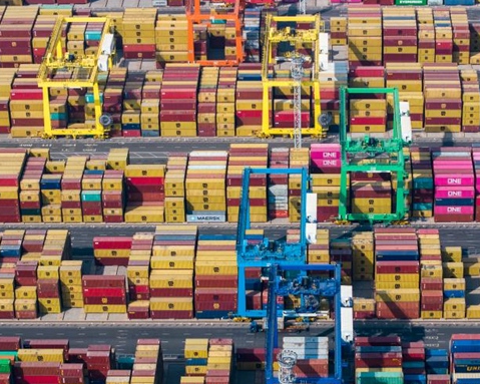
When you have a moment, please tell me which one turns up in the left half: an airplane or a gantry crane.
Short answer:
gantry crane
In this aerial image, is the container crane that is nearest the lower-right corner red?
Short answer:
No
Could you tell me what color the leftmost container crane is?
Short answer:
yellow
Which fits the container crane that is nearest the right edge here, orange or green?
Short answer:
green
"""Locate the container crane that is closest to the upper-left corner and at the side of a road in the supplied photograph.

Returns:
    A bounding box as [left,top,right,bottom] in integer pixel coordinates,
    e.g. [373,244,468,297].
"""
[34,20,118,138]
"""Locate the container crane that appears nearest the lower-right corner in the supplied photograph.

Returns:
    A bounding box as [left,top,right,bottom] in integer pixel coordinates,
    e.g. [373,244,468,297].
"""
[261,262,356,384]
